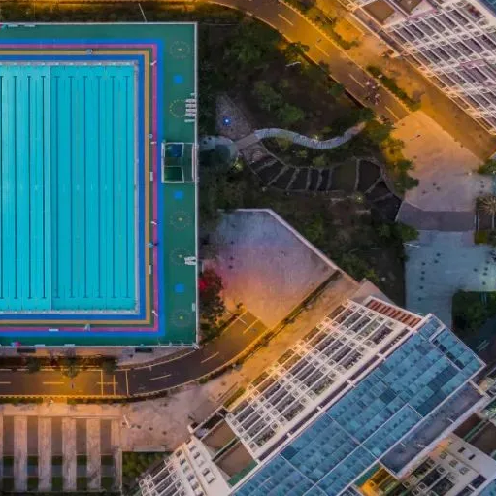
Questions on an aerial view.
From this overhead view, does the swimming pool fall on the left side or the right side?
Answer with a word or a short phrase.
left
